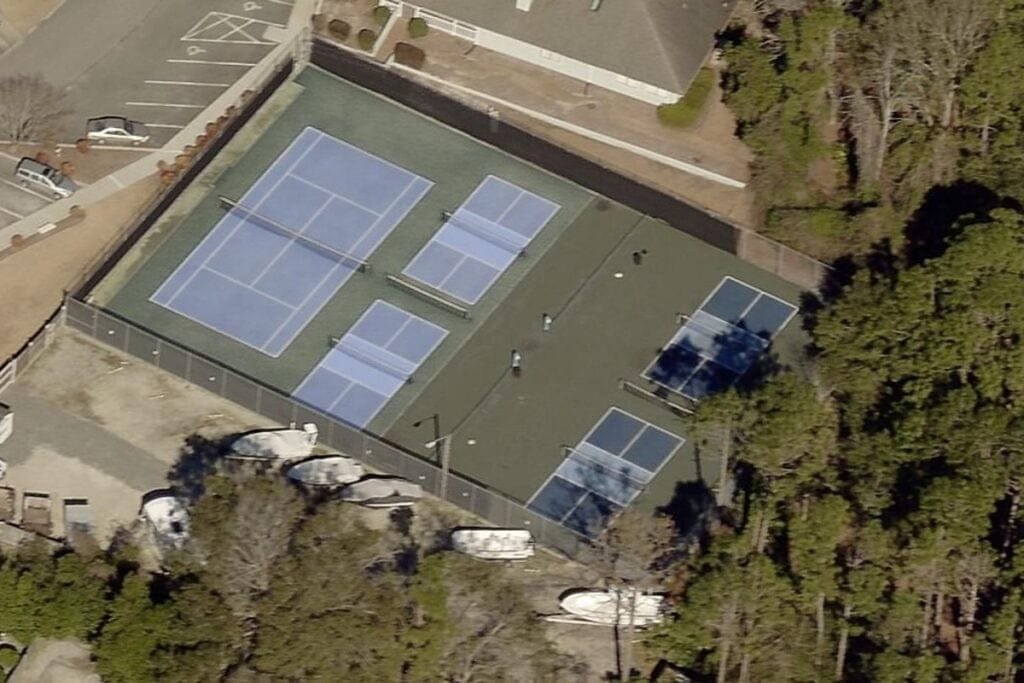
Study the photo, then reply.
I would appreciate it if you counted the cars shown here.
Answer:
2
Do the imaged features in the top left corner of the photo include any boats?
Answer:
No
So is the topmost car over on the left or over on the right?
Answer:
left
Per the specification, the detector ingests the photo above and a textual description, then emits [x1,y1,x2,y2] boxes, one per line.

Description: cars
[12,154,80,199]
[87,118,150,145]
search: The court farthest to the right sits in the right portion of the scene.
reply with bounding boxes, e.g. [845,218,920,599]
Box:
[642,277,799,407]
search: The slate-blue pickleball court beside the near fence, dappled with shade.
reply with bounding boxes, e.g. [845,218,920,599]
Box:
[525,408,684,539]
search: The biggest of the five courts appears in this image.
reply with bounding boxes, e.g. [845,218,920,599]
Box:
[151,127,435,356]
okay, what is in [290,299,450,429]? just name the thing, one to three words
sports court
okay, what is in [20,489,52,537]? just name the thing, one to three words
trailer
